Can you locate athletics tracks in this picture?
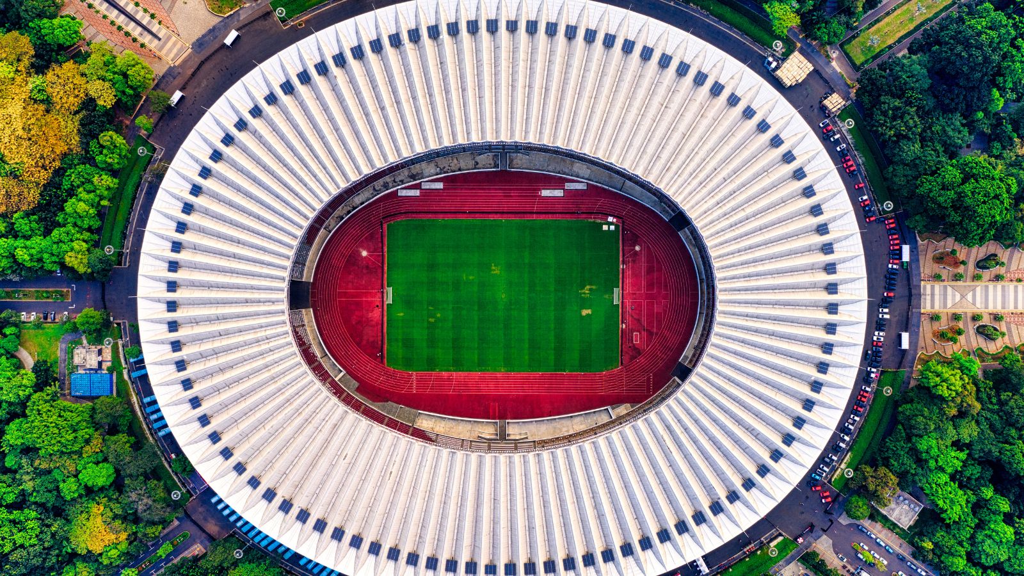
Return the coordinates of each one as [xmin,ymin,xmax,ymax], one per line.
[310,170,699,420]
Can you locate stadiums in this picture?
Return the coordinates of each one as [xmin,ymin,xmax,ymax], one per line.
[129,0,868,576]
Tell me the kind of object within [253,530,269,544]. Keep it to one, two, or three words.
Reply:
vehicle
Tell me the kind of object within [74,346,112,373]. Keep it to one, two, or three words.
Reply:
building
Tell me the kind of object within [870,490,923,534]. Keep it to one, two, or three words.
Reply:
house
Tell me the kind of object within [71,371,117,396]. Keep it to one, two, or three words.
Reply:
building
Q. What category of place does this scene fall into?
sports ground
